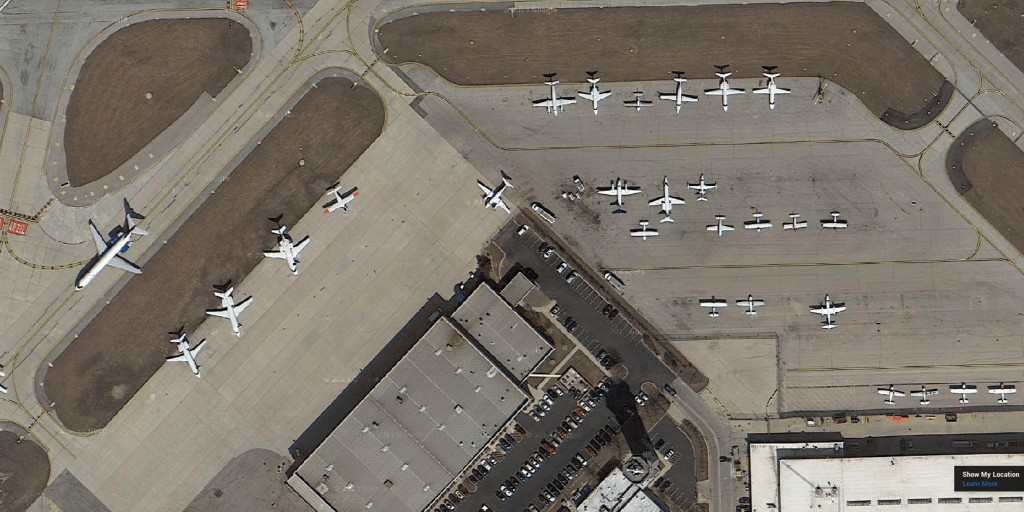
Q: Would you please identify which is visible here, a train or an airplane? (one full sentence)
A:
I can see an airplane in this picture.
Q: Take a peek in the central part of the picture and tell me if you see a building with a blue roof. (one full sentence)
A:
No, there's no building with a blue roof to be seen in the central part of the picture.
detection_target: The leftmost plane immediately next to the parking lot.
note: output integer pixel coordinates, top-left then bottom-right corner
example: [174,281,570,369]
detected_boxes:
[478,177,512,211]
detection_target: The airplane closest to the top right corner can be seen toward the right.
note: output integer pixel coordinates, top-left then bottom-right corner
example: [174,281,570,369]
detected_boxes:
[752,72,792,109]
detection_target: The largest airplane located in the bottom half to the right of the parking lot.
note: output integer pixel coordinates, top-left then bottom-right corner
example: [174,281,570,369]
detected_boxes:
[810,296,847,329]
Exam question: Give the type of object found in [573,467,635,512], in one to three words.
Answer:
building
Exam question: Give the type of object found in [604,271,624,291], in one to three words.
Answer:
vehicle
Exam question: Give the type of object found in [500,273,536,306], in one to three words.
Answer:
building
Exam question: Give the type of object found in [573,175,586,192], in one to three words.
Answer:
vehicle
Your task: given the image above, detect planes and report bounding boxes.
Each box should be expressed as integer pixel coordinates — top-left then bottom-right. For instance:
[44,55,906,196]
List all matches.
[478,177,512,211]
[649,179,685,221]
[810,296,847,329]
[737,296,765,315]
[624,93,653,112]
[688,174,716,203]
[597,180,641,214]
[744,213,772,233]
[631,222,658,241]
[752,72,792,109]
[877,386,905,405]
[533,81,576,115]
[699,297,727,316]
[910,386,938,405]
[207,289,251,337]
[706,218,734,236]
[577,79,610,115]
[704,74,745,111]
[322,186,356,212]
[950,384,977,403]
[76,215,148,290]
[988,384,1016,403]
[264,225,308,275]
[168,336,205,378]
[660,78,698,114]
